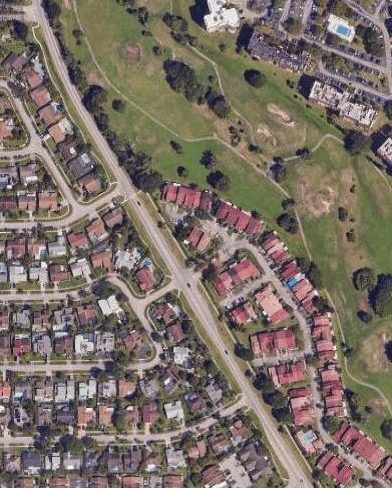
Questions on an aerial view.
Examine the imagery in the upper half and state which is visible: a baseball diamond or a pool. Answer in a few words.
pool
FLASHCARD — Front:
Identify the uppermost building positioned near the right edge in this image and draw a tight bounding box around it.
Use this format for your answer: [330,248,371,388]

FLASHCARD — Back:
[308,81,379,133]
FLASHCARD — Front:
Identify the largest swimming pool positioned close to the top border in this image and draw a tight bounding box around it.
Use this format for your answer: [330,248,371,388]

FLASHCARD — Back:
[328,15,355,43]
